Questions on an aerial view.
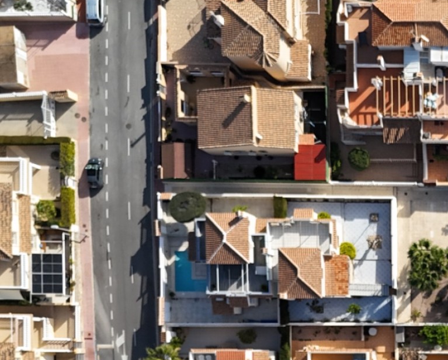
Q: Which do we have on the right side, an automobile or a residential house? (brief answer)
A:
residential house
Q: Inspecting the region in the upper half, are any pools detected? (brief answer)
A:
No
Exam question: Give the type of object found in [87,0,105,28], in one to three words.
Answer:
car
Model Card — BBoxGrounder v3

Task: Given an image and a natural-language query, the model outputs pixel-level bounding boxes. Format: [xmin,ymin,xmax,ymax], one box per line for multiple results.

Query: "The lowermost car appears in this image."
[87,159,104,189]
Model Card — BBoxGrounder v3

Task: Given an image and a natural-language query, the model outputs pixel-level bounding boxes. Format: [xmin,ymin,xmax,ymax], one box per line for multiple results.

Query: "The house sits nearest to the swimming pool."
[188,209,292,315]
